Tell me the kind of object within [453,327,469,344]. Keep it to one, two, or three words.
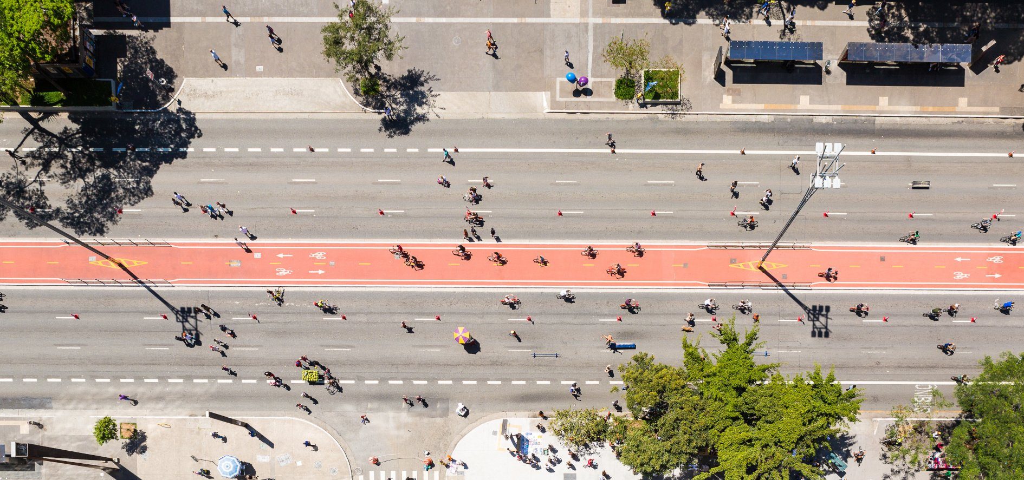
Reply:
umbrella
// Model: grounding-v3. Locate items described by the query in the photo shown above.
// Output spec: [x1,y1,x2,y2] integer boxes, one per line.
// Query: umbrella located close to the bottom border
[219,456,241,477]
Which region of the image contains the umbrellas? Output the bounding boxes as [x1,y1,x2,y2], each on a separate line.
[219,456,241,477]
[453,327,469,344]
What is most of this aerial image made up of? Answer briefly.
paved ground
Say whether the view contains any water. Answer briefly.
No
